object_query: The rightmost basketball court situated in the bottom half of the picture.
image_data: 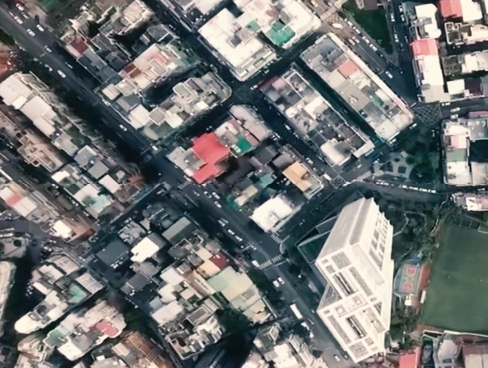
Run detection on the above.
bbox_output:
[394,260,430,295]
